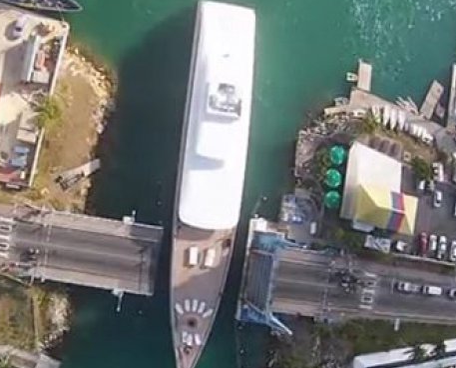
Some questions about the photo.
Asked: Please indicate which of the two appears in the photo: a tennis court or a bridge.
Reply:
bridge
